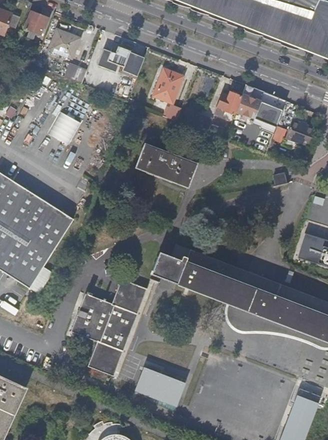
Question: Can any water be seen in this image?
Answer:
No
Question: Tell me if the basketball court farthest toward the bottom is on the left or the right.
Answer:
right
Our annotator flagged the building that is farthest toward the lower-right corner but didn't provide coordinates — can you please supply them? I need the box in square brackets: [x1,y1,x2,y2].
[277,379,328,440]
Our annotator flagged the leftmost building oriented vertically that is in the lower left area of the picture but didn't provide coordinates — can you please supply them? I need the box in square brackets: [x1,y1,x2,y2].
[0,374,29,440]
